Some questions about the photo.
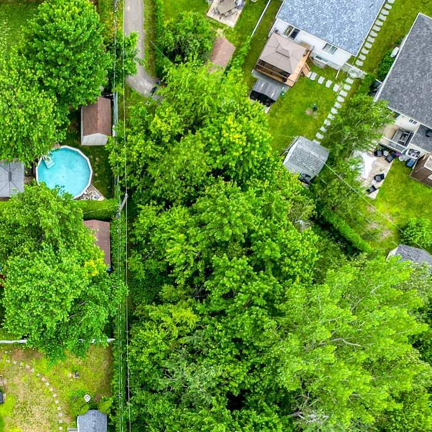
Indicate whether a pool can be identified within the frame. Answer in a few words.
Yes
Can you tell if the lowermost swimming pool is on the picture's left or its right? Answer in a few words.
left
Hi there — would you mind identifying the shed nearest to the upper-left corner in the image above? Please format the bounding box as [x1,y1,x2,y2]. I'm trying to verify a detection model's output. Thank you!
[80,95,111,143]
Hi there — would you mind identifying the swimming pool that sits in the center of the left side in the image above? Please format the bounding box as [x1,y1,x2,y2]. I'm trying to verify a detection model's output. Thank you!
[36,143,92,202]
